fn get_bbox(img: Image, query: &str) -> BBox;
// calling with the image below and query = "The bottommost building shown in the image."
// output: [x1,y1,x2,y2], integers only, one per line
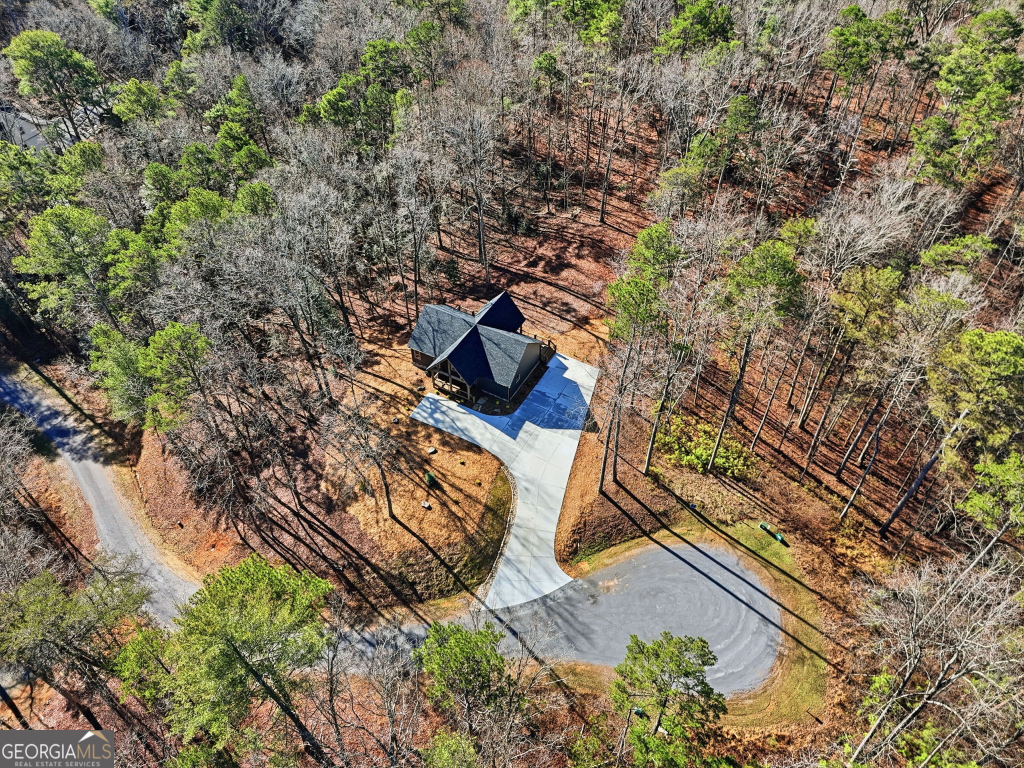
[407,290,558,405]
